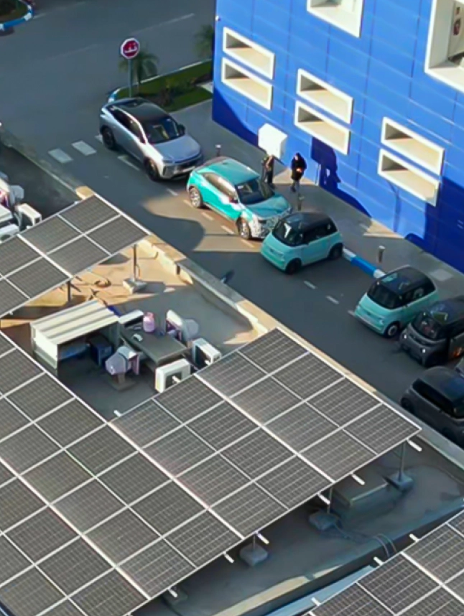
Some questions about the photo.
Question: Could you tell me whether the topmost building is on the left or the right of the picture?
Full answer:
You can find the topmost building on the right side of the picture.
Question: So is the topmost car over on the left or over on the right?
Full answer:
The topmost car sits on the left side.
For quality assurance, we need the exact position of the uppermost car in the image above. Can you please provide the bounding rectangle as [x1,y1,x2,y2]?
[96,98,208,181]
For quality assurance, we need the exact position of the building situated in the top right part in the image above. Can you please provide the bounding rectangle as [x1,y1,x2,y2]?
[210,0,464,288]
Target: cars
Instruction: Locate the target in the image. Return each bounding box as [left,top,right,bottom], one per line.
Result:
[260,205,346,274]
[96,98,208,181]
[183,157,297,241]
[401,356,464,443]
[351,262,439,336]
[404,284,464,360]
